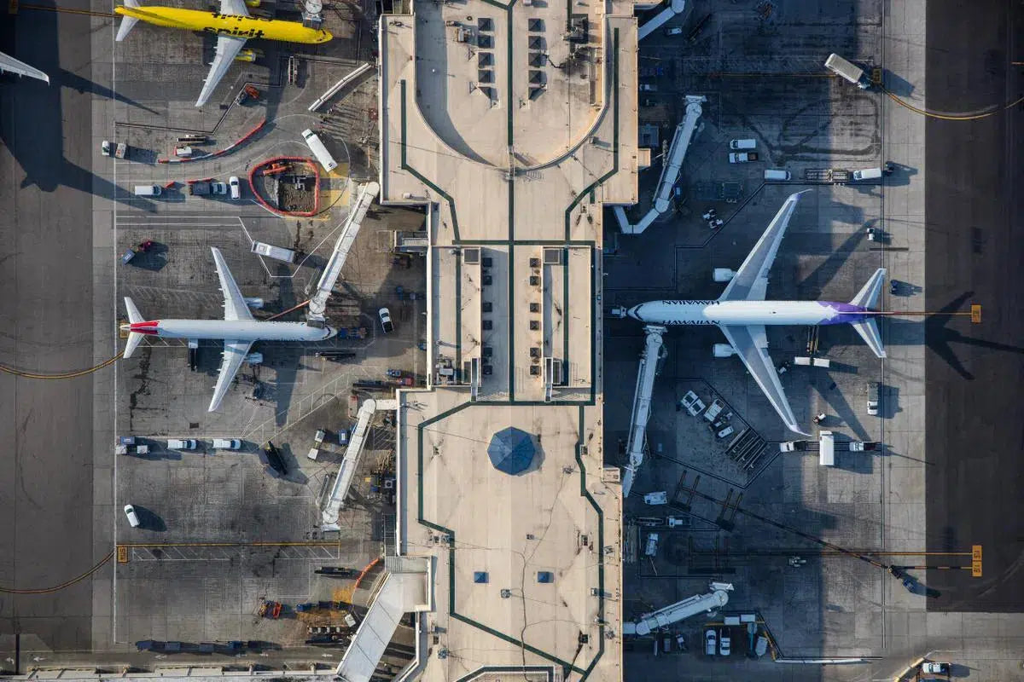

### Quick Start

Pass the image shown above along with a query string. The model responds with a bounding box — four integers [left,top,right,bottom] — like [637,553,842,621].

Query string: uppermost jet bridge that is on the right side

[641,0,688,39]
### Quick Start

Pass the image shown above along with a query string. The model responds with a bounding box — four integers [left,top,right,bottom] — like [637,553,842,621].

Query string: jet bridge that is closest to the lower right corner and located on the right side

[625,578,730,637]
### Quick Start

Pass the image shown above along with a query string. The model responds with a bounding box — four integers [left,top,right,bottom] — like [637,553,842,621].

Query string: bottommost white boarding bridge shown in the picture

[321,399,394,532]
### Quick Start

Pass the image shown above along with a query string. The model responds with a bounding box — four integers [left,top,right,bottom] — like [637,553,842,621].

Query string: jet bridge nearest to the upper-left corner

[304,0,328,32]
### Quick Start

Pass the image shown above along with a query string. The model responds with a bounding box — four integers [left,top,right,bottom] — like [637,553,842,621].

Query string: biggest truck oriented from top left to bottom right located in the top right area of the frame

[823,55,867,92]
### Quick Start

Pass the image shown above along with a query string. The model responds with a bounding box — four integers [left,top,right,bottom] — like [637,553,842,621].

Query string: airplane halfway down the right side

[628,187,892,438]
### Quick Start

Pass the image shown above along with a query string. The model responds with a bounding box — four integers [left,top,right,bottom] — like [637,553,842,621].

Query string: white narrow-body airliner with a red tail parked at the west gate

[123,247,337,411]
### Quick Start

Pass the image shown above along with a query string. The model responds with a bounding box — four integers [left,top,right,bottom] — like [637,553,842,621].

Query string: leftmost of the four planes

[0,43,52,87]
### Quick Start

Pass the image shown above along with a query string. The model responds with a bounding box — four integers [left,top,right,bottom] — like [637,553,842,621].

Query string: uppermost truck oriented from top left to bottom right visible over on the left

[301,129,341,172]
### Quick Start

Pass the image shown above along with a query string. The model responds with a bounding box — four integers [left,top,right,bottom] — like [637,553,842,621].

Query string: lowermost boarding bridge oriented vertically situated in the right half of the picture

[622,323,665,494]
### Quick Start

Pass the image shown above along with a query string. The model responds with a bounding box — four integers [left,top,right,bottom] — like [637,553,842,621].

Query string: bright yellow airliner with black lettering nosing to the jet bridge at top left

[117,0,333,103]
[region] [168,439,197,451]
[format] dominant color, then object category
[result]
white vehicle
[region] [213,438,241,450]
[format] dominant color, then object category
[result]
white vehicle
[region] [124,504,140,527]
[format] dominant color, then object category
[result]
white car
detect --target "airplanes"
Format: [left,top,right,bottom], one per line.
[123,247,337,411]
[0,43,52,87]
[117,0,333,103]
[628,187,892,438]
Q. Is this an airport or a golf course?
airport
